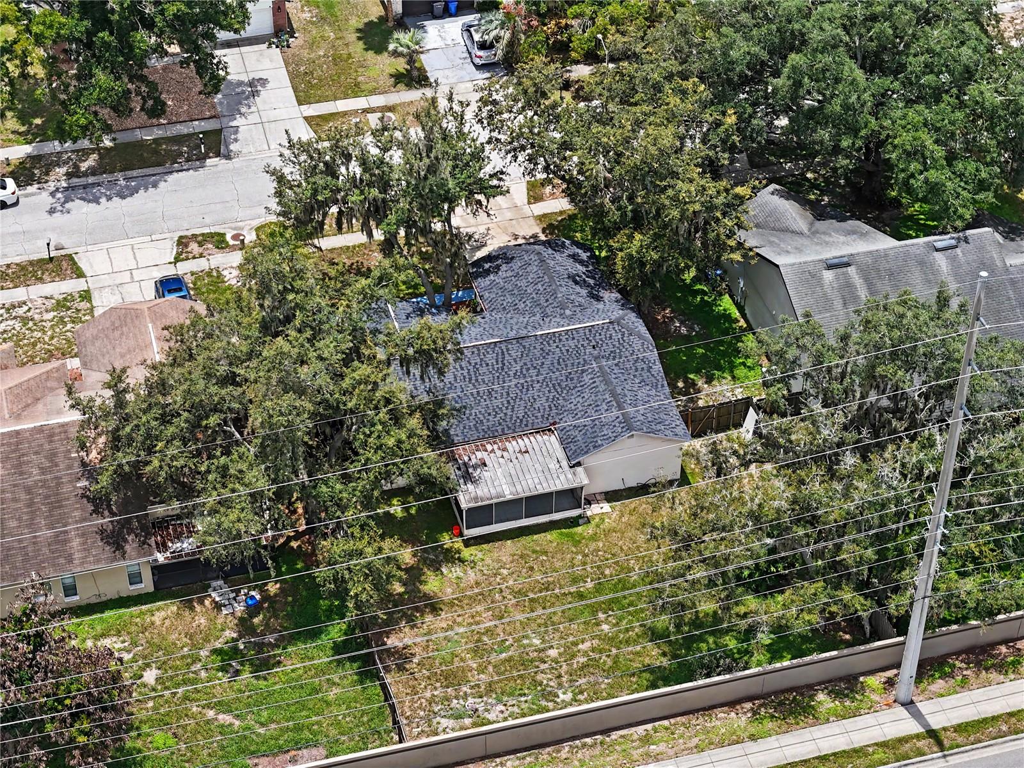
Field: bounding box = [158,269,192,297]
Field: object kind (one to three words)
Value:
car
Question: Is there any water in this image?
No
